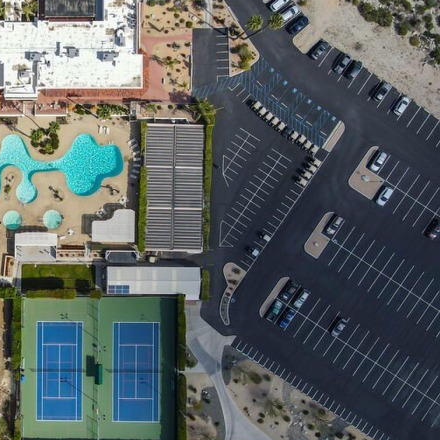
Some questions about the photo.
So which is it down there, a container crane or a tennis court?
tennis court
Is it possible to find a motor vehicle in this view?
Yes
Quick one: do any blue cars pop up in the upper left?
No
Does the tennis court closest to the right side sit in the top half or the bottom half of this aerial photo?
bottom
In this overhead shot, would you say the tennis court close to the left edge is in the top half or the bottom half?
bottom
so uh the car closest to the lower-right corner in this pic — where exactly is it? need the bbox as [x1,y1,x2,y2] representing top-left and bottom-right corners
[332,318,349,337]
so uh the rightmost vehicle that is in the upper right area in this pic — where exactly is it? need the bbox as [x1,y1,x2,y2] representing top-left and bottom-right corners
[396,96,412,113]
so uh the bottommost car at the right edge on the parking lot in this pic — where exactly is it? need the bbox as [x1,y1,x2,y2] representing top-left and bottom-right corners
[428,220,440,238]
